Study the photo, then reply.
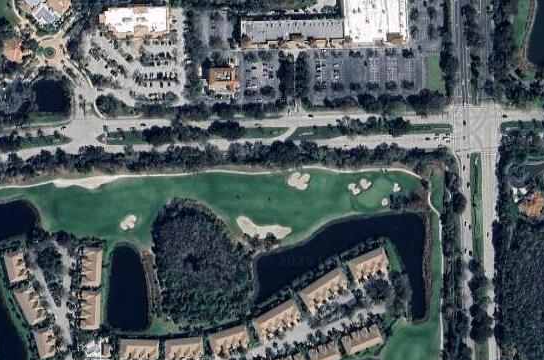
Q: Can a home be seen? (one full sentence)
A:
Yes, you can see a home in this photo.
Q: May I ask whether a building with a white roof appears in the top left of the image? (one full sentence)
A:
Yes, looking in the top left of the image, one can make out a building with a white roof.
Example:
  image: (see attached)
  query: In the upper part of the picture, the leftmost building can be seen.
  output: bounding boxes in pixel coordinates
[1,36,27,61]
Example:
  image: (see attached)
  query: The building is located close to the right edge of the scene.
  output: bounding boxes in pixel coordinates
[518,189,544,218]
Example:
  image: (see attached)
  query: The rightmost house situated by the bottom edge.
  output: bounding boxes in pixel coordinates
[341,324,383,354]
